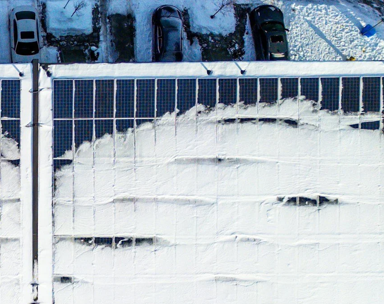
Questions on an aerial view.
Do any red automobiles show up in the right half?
No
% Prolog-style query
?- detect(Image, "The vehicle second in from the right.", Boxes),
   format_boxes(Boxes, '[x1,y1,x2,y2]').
[149,7,189,60]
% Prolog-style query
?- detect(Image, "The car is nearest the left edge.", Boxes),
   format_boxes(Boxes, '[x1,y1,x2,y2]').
[8,4,45,60]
